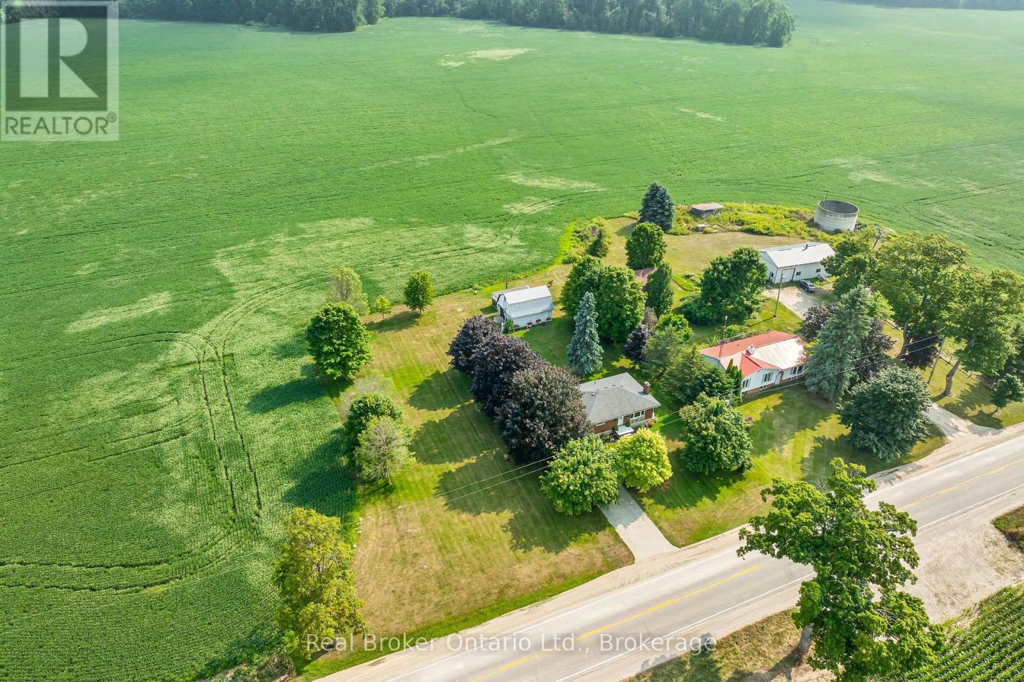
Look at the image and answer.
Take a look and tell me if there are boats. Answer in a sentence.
No, no boat is visible in the scene.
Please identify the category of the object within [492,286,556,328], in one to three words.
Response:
barn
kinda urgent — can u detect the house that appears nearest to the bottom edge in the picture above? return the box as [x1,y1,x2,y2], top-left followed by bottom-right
[577,373,661,439]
